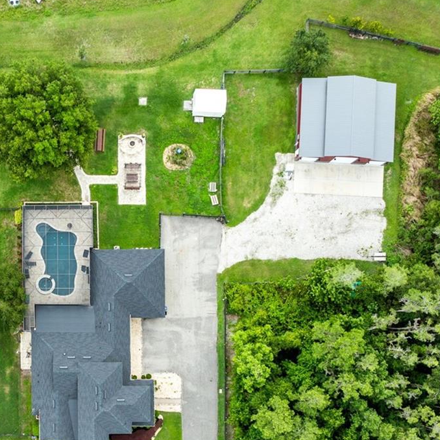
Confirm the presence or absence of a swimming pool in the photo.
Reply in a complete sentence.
Yes, the picture does show a swimming pool.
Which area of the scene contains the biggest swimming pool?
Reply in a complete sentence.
You can find the biggest swimming pool in the left area of the picture.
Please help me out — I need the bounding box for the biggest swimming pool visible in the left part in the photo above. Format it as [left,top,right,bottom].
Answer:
[34,222,78,297]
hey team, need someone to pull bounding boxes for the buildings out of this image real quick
[291,75,396,166]
[191,91,225,120]
[31,249,165,440]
